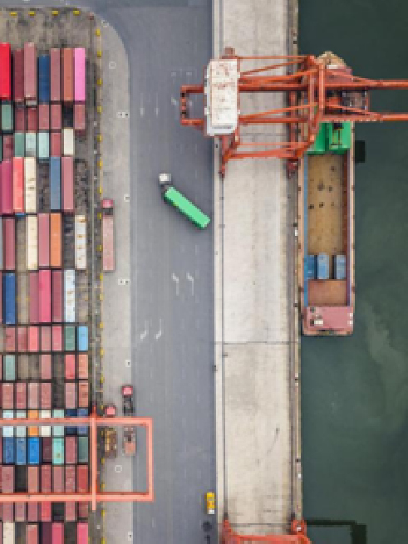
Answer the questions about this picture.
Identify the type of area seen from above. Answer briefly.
port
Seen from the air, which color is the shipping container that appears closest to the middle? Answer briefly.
green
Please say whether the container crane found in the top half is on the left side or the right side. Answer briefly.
right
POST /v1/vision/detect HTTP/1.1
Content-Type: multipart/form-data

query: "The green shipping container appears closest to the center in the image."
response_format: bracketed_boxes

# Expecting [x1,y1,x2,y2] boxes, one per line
[164,187,211,231]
